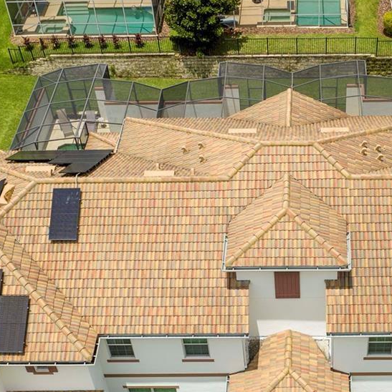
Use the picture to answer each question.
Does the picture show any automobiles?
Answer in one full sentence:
No, the frame has no automobile in it.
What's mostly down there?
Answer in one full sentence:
The largest share of the image is taken up by buildings.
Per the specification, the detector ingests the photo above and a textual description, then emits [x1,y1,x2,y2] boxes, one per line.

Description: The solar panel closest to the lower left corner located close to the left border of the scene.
[0,296,28,352]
